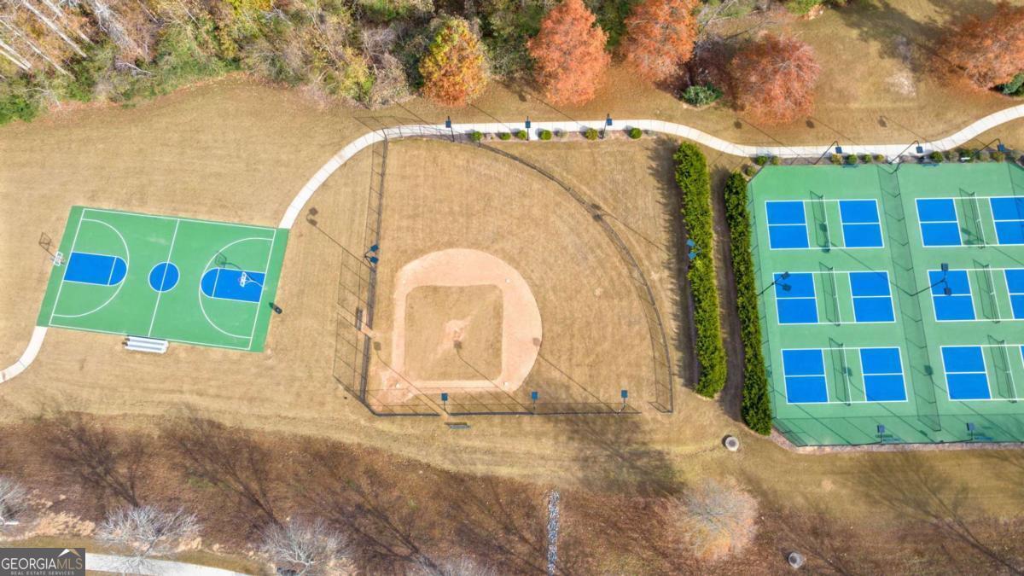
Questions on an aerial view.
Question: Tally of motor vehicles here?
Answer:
0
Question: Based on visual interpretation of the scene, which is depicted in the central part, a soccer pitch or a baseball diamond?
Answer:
baseball diamond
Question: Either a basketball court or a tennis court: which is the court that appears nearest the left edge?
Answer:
basketball court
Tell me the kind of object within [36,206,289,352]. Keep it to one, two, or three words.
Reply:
basketball court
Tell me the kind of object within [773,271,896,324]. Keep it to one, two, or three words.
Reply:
sports court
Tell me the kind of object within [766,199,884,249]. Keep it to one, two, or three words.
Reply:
sports court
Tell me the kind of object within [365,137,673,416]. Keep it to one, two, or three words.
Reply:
baseball field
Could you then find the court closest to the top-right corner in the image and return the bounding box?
[916,196,1024,246]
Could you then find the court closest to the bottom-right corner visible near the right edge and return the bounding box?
[941,345,1024,400]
